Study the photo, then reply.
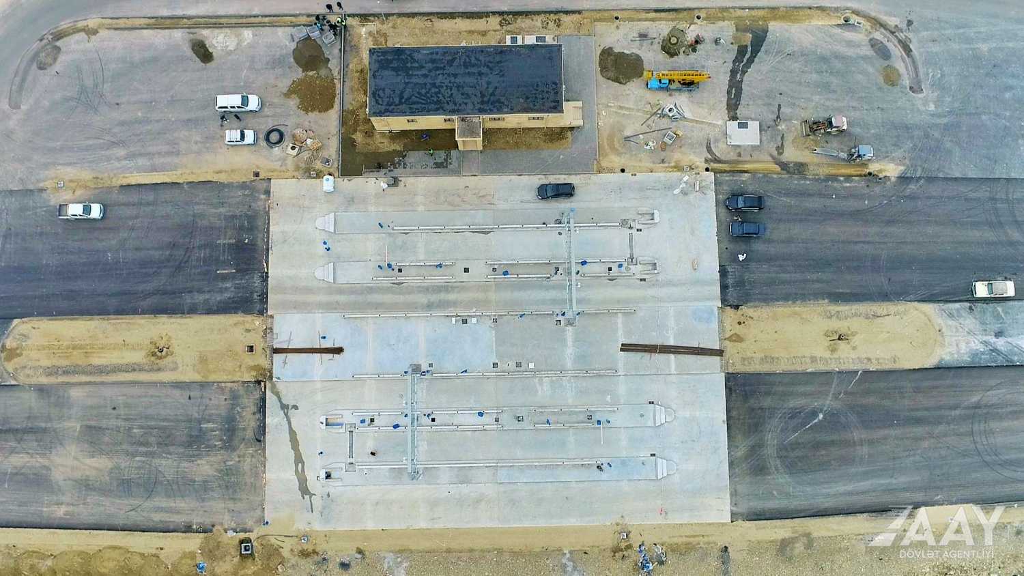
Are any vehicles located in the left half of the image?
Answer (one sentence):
Yes, the scene does show a vehicle in the left half of the image.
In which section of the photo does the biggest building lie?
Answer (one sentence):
The biggest building appears toward the top of the photo.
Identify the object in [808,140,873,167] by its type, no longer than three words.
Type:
work vehicle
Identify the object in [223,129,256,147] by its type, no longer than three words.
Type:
car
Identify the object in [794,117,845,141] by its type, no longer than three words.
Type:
work vehicle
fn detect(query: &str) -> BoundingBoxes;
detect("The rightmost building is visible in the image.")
[365,43,585,150]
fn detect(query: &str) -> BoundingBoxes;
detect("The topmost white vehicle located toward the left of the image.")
[215,93,260,114]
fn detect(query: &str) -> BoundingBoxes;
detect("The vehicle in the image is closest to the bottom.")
[974,280,1017,298]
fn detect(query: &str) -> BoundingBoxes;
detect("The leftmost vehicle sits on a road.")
[56,202,102,221]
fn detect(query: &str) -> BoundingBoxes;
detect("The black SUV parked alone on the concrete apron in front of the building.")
[536,183,573,202]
